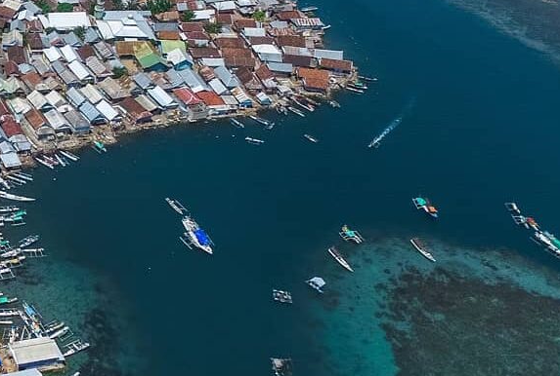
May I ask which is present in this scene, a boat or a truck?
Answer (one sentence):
The one in the frame is a boat.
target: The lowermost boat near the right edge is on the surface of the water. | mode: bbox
[530,231,560,262]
